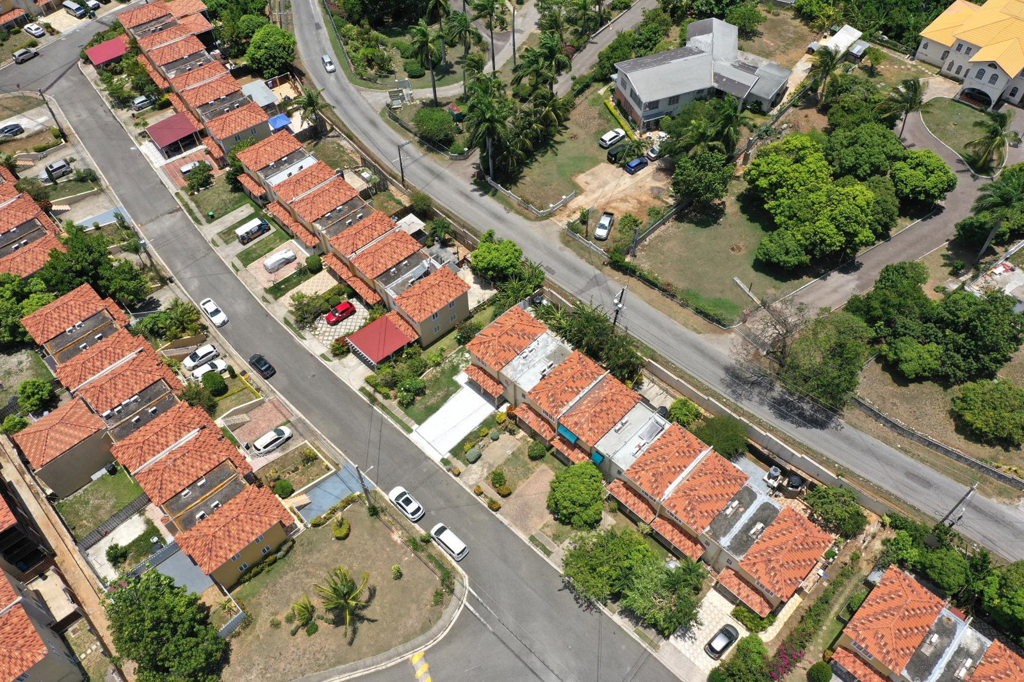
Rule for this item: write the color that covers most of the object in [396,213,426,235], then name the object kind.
white gazebo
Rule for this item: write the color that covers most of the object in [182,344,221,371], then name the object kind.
white car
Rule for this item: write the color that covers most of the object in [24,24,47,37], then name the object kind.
white vehicle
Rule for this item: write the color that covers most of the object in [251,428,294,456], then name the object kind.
white car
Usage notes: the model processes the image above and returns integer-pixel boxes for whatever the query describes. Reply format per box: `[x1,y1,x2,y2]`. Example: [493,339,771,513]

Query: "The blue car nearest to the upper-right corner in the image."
[623,158,649,175]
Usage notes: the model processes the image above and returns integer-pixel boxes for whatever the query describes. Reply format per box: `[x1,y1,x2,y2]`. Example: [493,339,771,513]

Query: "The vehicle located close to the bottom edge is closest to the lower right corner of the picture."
[702,624,740,664]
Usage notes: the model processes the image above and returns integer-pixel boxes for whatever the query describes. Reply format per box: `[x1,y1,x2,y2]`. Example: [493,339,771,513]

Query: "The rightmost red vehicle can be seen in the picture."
[325,300,358,324]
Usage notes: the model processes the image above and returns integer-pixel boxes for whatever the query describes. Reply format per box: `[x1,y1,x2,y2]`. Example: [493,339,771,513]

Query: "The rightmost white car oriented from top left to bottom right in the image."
[431,524,471,563]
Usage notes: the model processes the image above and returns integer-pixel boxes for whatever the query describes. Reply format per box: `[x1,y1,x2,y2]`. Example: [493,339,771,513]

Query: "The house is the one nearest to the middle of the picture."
[463,306,559,407]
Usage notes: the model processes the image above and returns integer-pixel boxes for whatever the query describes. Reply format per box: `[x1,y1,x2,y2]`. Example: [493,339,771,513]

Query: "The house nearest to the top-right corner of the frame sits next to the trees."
[916,2,1024,112]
